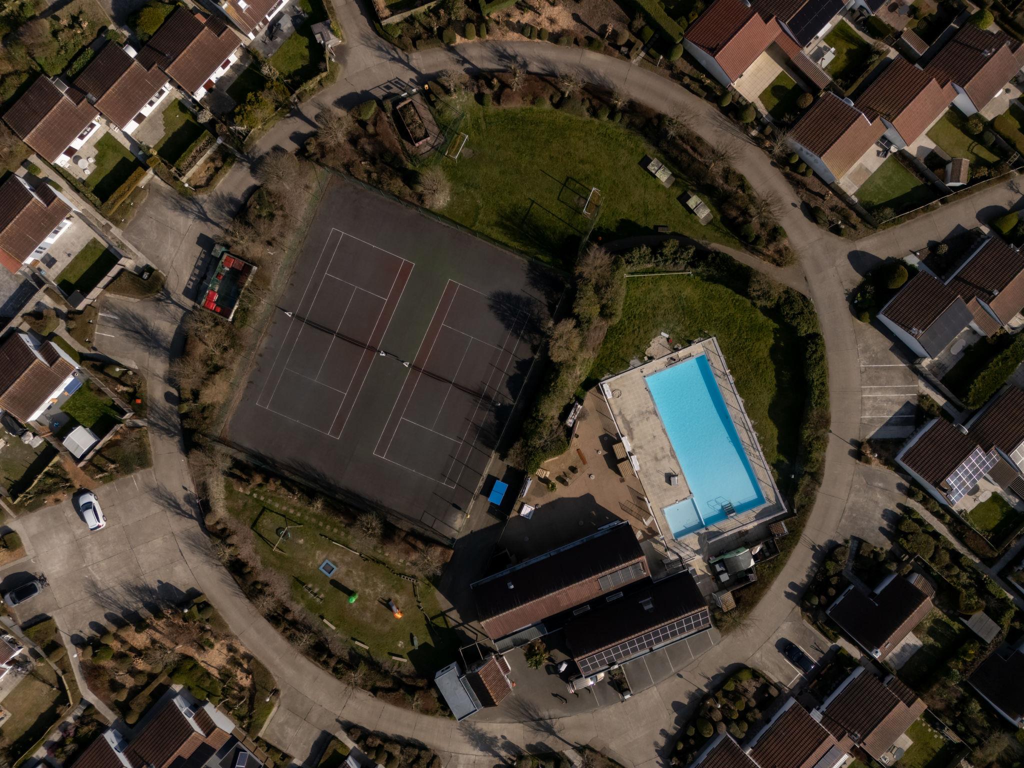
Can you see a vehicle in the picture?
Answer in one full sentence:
Yes, a vehicle can be made out from above.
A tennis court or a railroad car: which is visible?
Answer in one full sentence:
It is a tennis court that can be seen here.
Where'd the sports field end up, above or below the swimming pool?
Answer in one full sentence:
The position of the sports field is above the swimming pool.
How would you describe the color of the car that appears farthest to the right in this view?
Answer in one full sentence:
The car that appears farthest to the right looks black in the image.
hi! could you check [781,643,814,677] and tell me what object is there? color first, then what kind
black car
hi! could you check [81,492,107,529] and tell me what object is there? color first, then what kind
white car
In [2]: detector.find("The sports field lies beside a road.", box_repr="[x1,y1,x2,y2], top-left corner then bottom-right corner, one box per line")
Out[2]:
[417,99,769,275]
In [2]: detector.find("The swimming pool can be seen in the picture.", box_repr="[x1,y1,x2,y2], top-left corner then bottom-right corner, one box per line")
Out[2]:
[601,337,788,561]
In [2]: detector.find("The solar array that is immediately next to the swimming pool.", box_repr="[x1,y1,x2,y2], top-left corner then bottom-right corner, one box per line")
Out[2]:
[578,610,710,672]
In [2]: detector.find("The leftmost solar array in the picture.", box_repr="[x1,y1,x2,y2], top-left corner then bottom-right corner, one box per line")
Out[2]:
[174,736,222,768]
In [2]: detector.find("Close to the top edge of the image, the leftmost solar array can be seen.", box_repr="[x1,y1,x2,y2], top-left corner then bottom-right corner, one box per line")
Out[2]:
[788,0,835,48]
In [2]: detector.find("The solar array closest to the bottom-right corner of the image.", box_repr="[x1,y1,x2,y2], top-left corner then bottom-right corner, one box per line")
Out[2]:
[814,742,850,768]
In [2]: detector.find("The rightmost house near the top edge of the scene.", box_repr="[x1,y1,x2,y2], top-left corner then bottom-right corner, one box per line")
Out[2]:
[922,23,1024,118]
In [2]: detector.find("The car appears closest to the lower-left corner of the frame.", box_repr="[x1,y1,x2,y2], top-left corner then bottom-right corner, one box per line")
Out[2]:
[6,577,47,605]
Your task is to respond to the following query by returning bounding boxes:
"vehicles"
[81,492,107,529]
[6,577,47,605]
[781,643,814,677]
[564,672,604,697]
